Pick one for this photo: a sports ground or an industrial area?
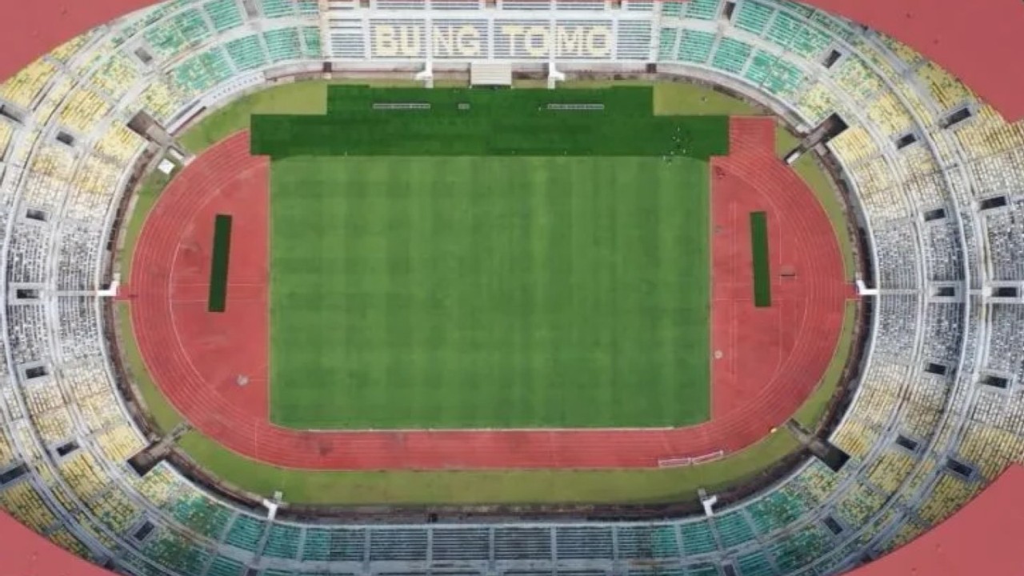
sports ground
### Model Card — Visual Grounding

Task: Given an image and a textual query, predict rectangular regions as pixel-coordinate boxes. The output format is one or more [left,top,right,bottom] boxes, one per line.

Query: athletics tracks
[116,118,859,469]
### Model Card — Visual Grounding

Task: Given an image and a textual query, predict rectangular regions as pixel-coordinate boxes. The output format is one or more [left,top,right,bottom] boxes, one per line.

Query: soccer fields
[270,156,712,428]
